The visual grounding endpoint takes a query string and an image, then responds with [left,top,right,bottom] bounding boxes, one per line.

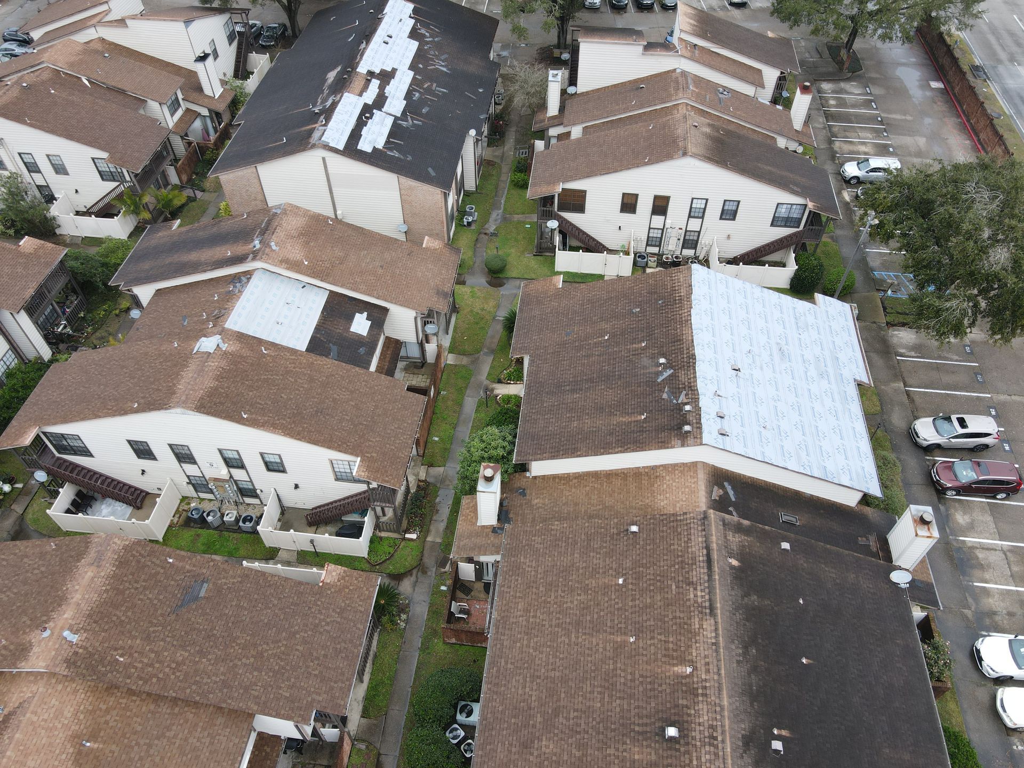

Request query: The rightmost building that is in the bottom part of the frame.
[442,264,956,768]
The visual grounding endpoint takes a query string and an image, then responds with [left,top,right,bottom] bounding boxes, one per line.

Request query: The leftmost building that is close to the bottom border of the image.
[0,535,399,768]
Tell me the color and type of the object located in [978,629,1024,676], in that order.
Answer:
white car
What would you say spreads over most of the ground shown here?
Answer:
buildings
